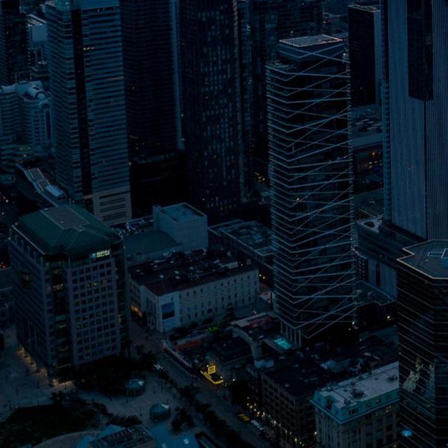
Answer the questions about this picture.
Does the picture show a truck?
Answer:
No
